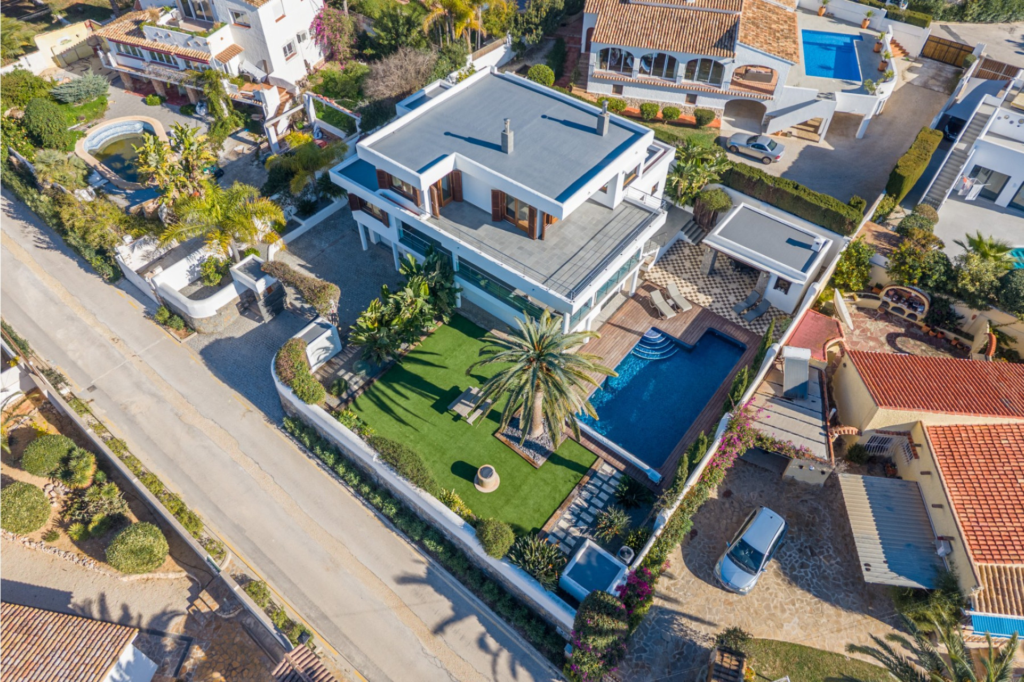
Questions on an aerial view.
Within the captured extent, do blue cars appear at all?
Yes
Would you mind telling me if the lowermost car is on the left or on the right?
right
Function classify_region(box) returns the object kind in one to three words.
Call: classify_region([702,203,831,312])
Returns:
building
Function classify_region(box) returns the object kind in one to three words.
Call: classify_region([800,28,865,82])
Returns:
swimming pool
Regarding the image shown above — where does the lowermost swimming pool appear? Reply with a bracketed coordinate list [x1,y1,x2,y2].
[573,306,749,467]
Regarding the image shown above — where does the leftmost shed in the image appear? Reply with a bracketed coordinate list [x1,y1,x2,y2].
[0,328,46,416]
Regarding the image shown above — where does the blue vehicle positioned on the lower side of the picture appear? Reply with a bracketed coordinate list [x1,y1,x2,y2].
[716,498,793,594]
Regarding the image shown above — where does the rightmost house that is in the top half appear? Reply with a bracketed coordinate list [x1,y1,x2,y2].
[922,86,1024,217]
